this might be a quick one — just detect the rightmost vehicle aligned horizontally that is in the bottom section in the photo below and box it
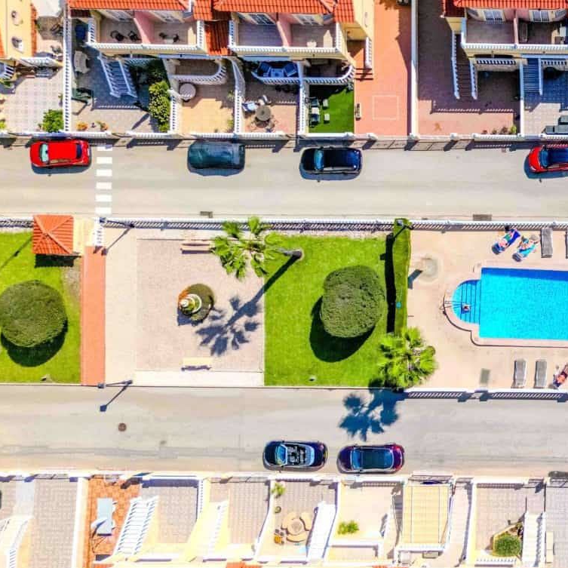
[336,442,402,475]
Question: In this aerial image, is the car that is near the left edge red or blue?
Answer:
red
